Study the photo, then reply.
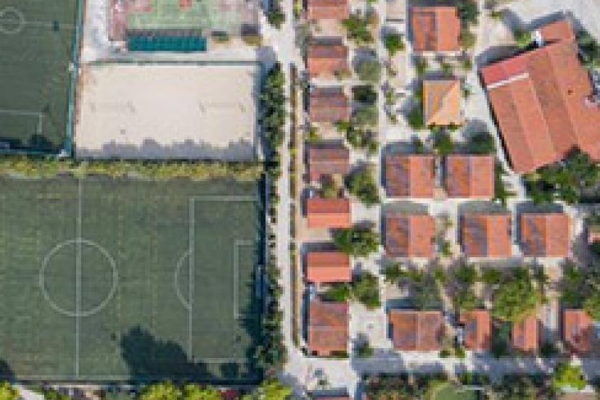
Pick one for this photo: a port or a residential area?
residential area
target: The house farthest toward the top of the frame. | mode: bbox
[306,0,349,19]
